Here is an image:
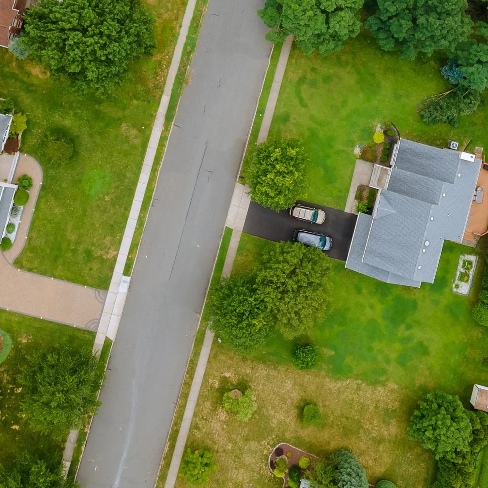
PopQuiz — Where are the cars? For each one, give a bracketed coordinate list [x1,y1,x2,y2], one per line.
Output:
[292,228,333,252]
[288,204,326,226]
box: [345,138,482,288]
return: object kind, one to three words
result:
house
